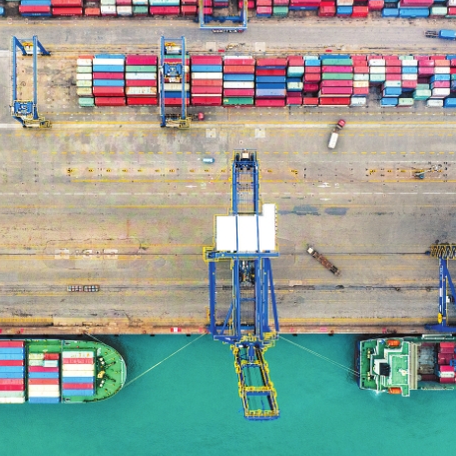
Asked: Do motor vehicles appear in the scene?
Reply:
Yes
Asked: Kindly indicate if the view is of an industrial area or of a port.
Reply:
port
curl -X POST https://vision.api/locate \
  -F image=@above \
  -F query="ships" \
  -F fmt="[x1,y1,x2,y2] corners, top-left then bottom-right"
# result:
[358,335,456,396]
[0,337,125,403]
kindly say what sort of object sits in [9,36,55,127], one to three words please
container crane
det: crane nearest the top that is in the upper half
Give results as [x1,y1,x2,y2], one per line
[196,0,248,30]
